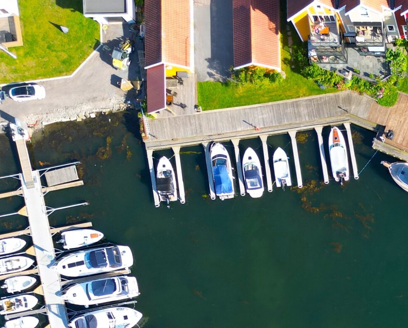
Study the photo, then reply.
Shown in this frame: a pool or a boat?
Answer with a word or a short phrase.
boat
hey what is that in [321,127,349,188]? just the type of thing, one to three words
boat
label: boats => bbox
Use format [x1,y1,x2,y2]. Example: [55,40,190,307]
[321,127,349,188]
[0,258,35,276]
[54,229,104,249]
[53,274,143,310]
[0,239,27,256]
[273,145,292,194]
[153,154,179,206]
[47,243,142,280]
[1,318,40,328]
[67,305,140,328]
[243,148,267,201]
[0,277,37,294]
[0,296,38,316]
[208,139,237,203]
